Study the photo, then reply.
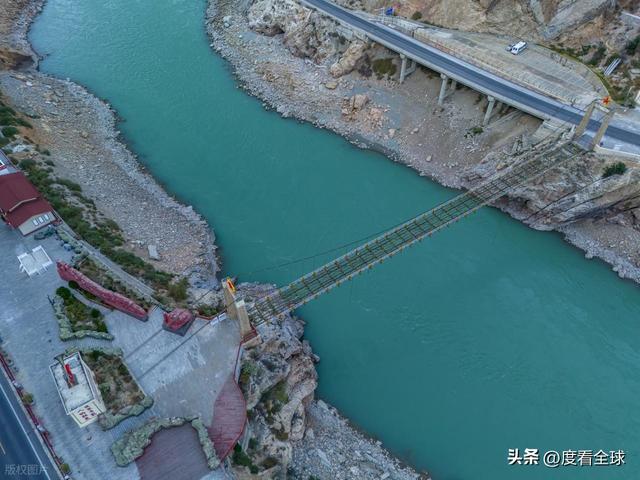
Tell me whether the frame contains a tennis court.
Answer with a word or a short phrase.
No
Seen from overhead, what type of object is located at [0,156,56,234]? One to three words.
house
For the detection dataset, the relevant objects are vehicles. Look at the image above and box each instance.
[512,42,525,54]
[504,44,514,51]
